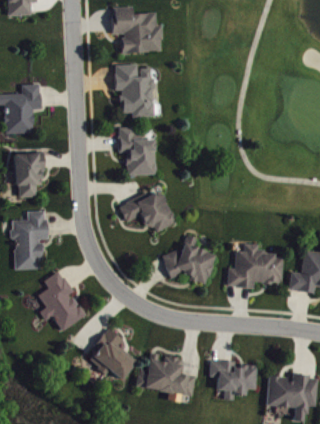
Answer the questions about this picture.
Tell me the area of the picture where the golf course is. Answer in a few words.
top right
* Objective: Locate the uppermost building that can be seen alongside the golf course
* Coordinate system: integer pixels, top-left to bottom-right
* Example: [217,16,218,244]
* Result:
[114,7,164,54]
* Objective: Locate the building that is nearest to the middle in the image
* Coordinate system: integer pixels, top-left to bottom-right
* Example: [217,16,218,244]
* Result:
[120,191,177,234]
